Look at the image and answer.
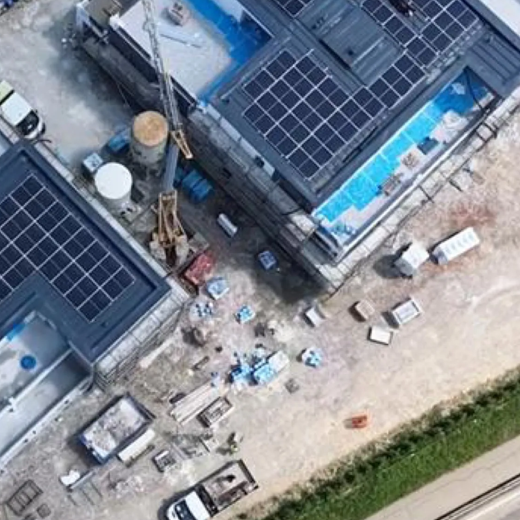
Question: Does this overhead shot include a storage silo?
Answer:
Yes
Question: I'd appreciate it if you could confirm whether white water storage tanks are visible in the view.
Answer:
Yes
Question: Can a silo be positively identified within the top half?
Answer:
Yes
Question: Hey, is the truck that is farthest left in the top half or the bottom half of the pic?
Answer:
top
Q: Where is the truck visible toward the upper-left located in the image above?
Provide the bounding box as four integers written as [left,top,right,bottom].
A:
[0,74,51,149]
